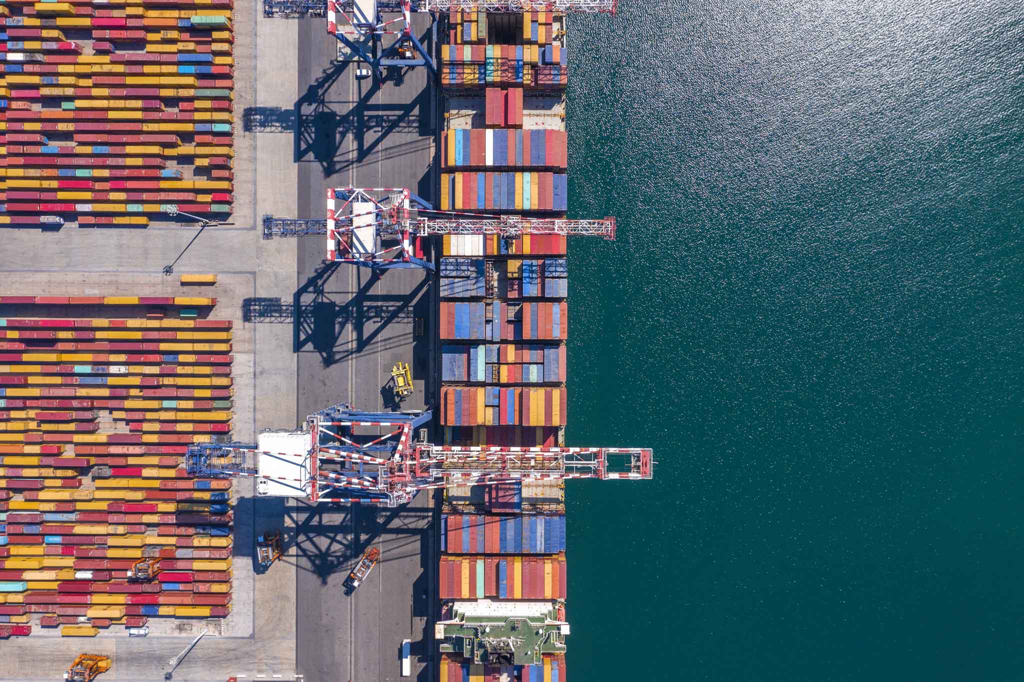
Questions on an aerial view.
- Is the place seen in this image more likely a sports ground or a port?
port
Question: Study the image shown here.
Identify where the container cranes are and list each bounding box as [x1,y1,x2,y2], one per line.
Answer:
[184,397,662,513]
[260,188,616,286]
[260,0,616,97]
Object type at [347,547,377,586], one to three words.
work vehicle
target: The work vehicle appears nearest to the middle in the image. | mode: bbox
[393,365,418,398]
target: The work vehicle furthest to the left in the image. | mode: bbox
[67,652,112,682]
